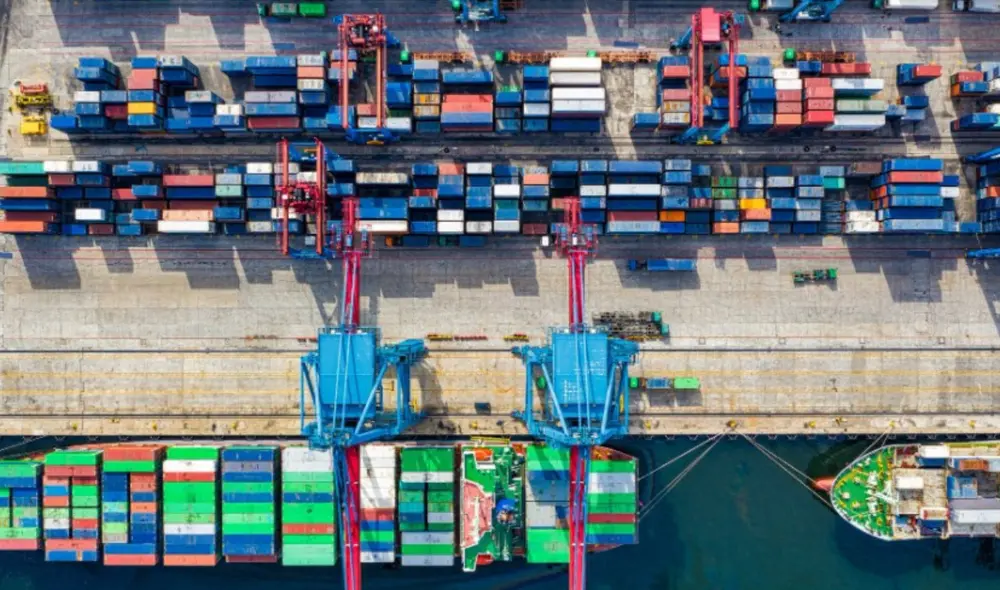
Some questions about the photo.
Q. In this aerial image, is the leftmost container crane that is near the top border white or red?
red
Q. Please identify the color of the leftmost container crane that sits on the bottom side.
blue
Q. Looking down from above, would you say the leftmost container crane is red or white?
red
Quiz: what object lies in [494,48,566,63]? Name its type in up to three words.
vehicle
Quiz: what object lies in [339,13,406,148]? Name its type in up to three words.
container crane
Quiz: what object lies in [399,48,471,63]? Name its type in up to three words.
vehicle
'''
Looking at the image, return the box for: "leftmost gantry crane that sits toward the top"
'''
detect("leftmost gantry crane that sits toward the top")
[278,138,353,260]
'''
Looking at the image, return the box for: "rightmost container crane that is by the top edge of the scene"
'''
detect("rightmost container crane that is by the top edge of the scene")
[774,0,847,21]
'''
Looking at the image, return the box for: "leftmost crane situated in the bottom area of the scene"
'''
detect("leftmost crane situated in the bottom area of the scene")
[300,195,436,590]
